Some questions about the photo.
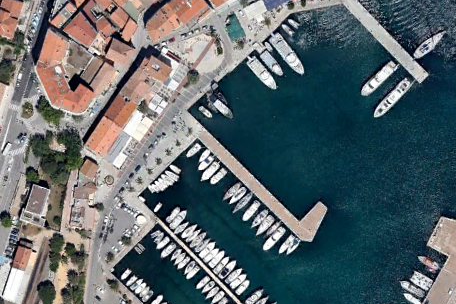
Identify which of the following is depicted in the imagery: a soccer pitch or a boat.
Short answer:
boat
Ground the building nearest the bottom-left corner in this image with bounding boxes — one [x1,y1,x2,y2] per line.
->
[3,268,26,302]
